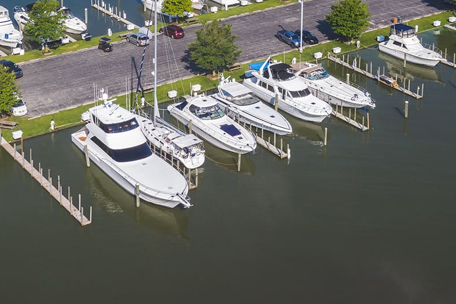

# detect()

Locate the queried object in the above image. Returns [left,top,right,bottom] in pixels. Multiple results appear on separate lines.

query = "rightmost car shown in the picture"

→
[294,27,322,42]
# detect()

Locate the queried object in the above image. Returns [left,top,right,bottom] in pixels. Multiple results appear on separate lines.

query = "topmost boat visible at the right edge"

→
[374,25,444,69]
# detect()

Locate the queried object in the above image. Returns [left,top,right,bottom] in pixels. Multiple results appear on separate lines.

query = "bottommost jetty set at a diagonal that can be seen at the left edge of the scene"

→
[0,124,93,229]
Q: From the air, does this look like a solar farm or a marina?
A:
marina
